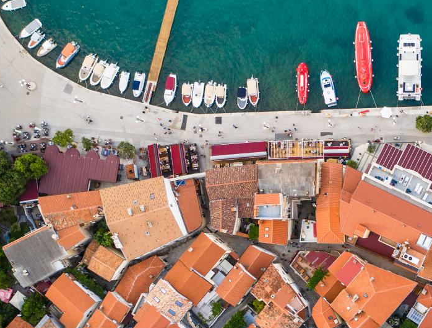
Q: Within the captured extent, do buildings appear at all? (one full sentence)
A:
Yes, the picture does show a building.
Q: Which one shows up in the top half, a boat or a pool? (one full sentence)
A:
The feature located in the top half is a boat.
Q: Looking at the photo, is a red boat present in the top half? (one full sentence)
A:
Yes, you'll find a red boat in the top half.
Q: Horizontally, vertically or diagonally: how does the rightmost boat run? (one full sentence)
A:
The rightmost boat is laid out vertically.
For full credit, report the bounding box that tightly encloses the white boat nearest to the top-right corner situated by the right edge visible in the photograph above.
[395,33,425,106]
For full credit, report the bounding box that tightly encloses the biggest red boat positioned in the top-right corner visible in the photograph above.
[352,21,375,94]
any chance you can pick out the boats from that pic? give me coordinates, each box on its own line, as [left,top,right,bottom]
[322,70,339,108]
[163,71,178,106]
[247,76,261,107]
[395,33,425,106]
[193,79,204,108]
[295,64,311,106]
[19,17,44,38]
[27,29,46,49]
[1,0,28,13]
[352,21,375,94]
[56,41,82,69]
[118,70,130,94]
[102,62,122,88]
[181,80,193,107]
[238,85,249,109]
[37,37,60,57]
[132,70,146,97]
[215,83,226,108]
[204,79,217,108]
[92,59,110,85]
[81,52,100,81]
